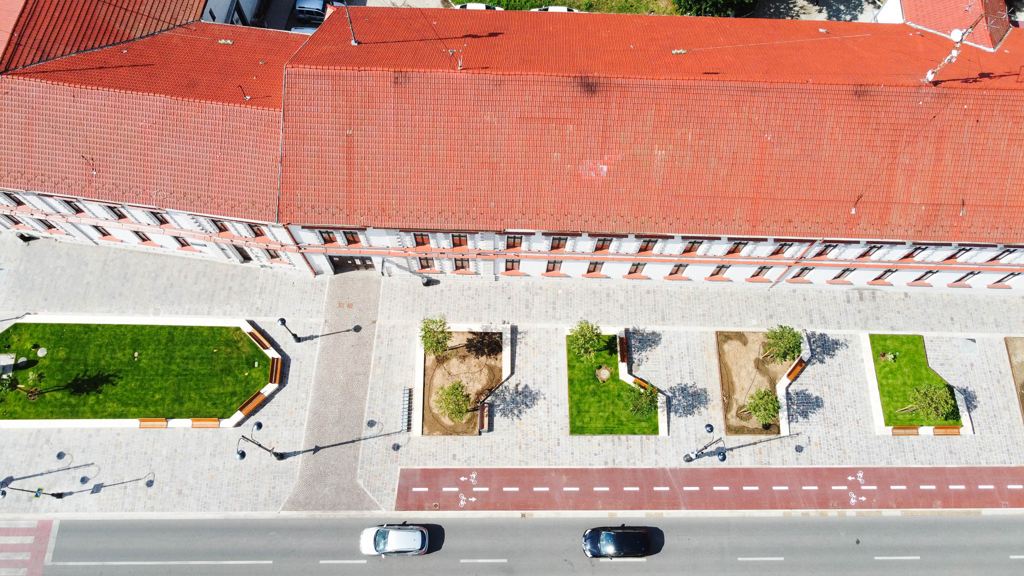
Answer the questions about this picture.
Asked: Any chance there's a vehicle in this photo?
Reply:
Yes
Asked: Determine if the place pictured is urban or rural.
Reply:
urban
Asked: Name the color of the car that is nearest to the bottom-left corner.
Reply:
white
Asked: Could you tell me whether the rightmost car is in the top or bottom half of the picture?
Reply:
bottom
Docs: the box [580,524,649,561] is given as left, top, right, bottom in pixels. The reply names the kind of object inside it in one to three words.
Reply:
car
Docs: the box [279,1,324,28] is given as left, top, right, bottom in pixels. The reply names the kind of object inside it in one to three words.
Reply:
car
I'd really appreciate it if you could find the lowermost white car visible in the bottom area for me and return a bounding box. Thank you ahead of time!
[359,522,428,560]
